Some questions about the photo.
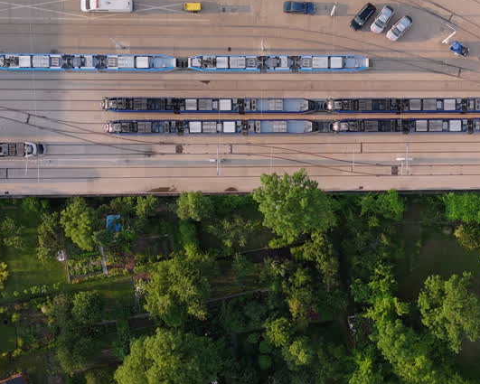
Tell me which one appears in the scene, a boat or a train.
train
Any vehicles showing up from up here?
Yes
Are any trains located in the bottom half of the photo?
No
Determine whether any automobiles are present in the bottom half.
No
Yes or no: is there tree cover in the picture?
Yes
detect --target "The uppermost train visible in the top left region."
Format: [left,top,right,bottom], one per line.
[0,54,182,73]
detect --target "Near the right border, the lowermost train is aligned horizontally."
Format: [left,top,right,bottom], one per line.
[325,117,480,136]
